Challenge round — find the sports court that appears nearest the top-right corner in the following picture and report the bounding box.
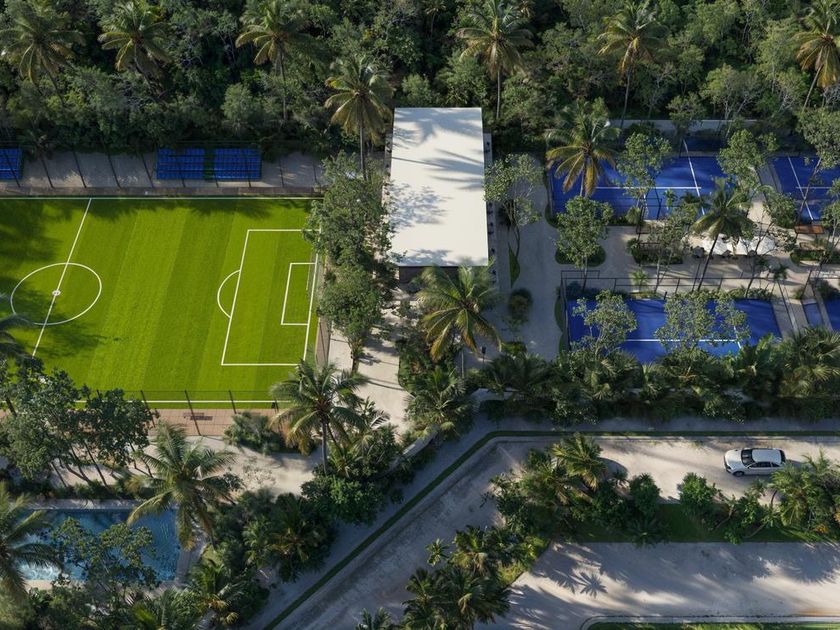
[754,127,840,221]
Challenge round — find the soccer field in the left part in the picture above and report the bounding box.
[0,186,336,435]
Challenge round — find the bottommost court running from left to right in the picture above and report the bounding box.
[563,269,803,380]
